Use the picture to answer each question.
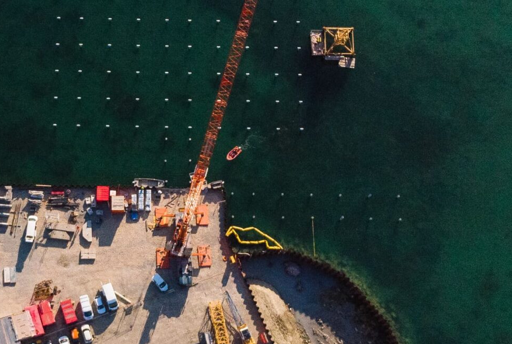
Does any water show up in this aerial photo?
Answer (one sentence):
Yes, the picture does contain water.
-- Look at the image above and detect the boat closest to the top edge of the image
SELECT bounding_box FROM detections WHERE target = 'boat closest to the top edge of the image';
[227,145,241,161]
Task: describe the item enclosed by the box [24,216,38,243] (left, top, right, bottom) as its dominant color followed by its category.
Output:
white vehicle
